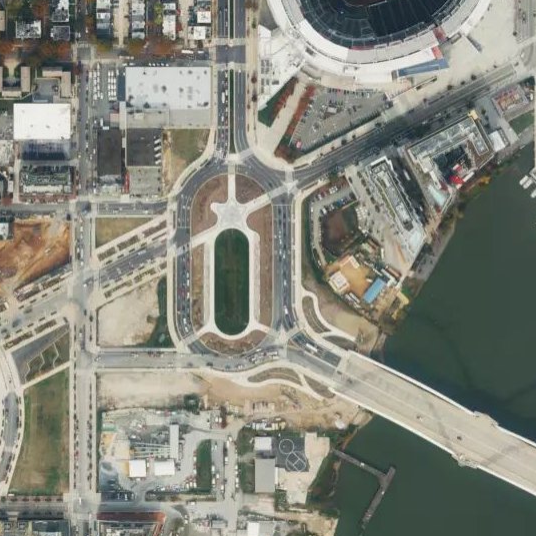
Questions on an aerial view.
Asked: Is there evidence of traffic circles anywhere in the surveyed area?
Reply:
Yes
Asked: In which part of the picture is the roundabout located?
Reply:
center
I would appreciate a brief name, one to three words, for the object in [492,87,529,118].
building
